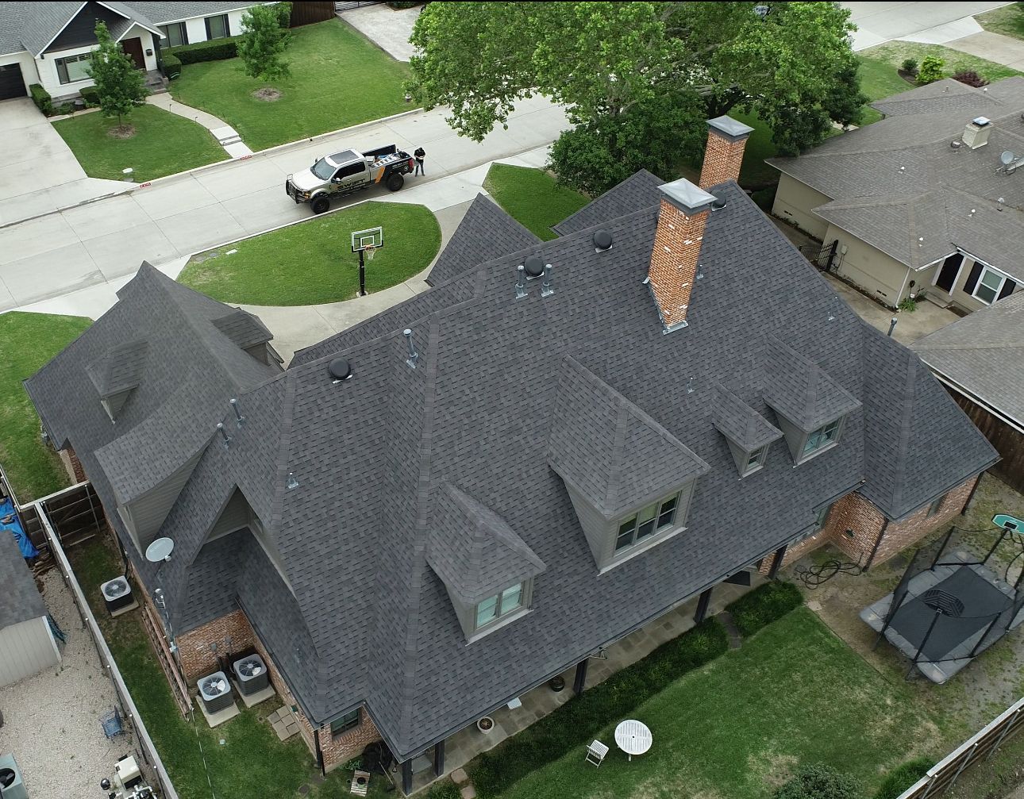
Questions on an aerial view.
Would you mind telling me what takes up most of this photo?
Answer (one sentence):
The bulk of the photo consists of buildings.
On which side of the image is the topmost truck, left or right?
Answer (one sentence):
You can find the topmost truck on the left side of the picture.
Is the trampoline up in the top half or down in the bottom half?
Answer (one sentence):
It is in the bottom half that the trampoline appears.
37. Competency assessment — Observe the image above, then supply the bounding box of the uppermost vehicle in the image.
[277,143,413,210]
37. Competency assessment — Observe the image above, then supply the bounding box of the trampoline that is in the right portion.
[859,523,1024,687]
